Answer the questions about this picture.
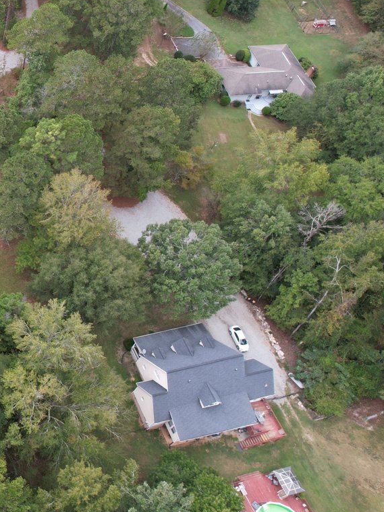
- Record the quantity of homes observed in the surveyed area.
2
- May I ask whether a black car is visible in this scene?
No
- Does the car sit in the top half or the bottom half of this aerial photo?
bottom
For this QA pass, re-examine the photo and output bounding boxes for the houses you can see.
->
[219,44,328,115]
[130,322,279,445]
